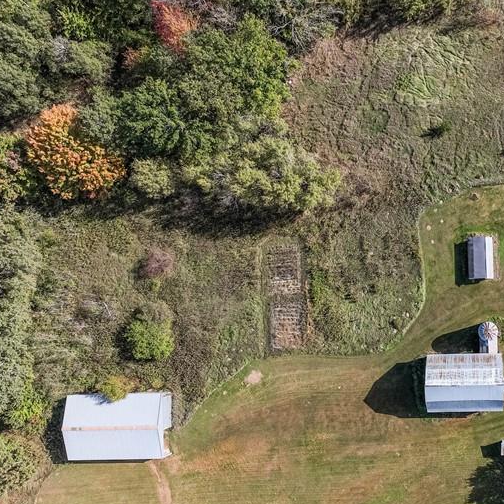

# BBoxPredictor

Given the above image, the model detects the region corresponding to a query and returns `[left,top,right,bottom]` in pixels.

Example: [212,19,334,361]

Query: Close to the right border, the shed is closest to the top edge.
[468,236,494,280]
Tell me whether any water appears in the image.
No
